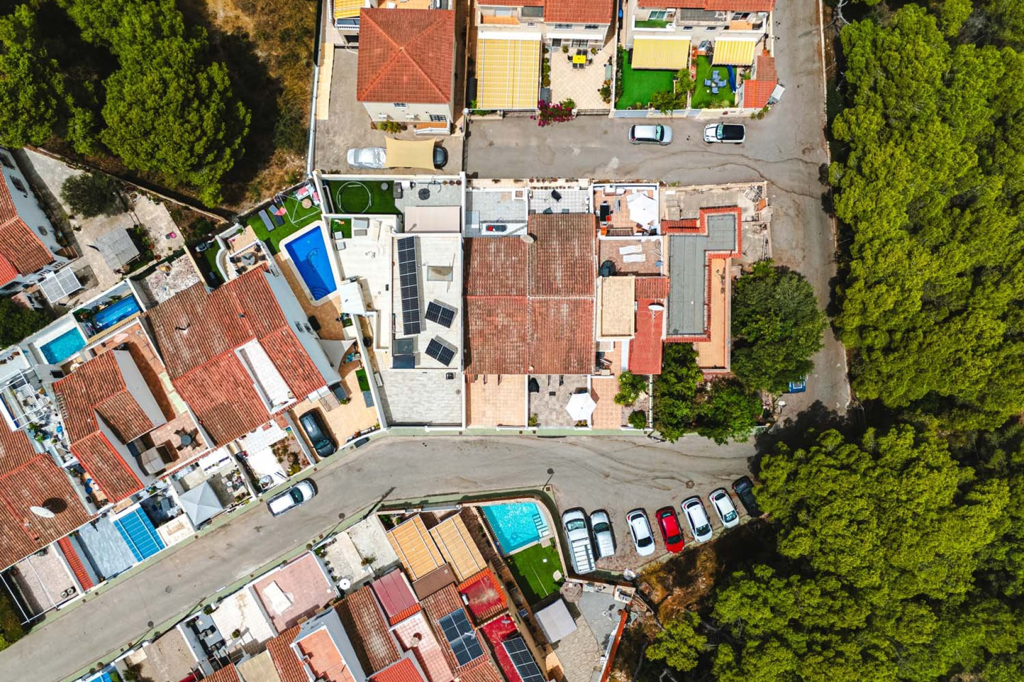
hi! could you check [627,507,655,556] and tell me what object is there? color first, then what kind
white car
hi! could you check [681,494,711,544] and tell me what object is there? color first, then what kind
white car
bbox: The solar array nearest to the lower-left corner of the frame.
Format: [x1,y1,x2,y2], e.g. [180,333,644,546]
[439,609,483,666]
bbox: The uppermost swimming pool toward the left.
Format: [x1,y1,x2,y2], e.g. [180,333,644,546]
[278,217,341,308]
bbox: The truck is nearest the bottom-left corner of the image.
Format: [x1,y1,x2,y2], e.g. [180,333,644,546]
[265,476,320,514]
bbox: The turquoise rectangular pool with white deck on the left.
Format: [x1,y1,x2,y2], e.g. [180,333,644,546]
[37,324,91,365]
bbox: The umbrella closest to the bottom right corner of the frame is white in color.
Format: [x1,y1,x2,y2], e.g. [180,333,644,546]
[565,393,599,423]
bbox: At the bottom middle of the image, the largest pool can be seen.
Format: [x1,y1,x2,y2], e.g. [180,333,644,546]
[479,501,549,558]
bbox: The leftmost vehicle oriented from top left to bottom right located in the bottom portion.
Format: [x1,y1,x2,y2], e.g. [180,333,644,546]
[299,407,339,458]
